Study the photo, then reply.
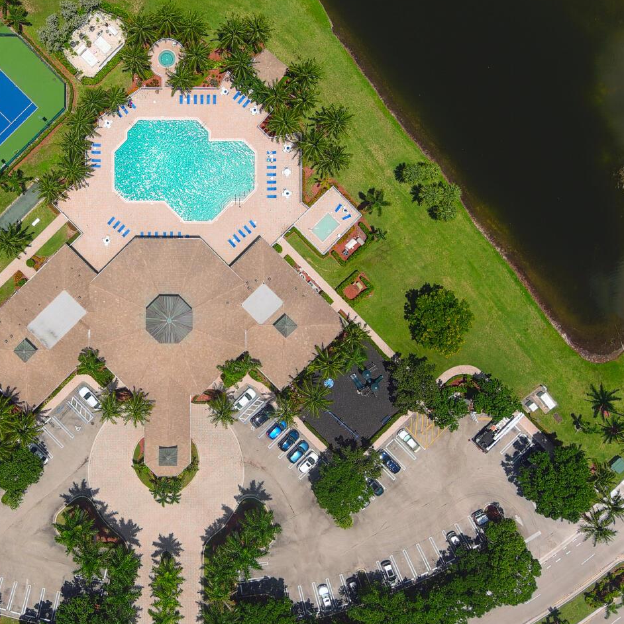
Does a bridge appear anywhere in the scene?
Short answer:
No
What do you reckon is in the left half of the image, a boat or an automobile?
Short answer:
automobile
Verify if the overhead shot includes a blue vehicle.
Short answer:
Yes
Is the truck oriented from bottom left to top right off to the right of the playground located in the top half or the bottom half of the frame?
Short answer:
bottom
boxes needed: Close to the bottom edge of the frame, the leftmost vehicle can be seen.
[317,582,331,610]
